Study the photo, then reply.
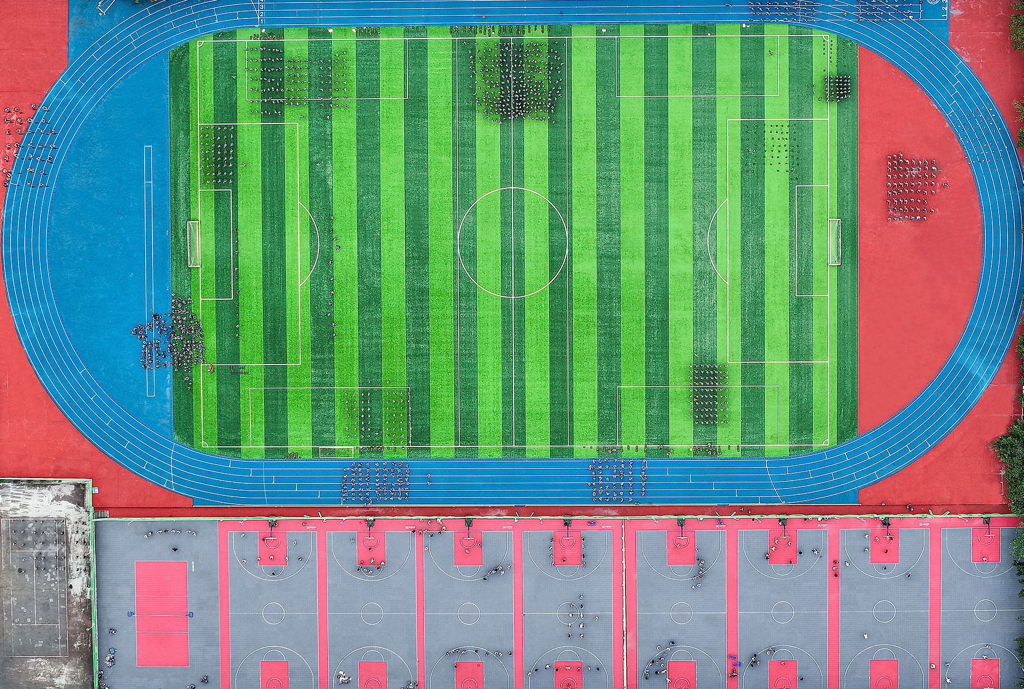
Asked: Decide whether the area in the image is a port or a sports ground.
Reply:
sports ground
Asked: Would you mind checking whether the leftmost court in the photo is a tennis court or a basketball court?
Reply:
tennis court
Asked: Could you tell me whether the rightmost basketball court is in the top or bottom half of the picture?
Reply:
bottom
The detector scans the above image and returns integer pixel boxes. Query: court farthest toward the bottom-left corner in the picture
[2,519,68,657]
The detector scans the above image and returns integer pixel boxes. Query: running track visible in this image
[3,0,1024,506]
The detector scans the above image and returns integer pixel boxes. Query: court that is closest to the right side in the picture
[940,528,1024,689]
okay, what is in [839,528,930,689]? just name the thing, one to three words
basketball court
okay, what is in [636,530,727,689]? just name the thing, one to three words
basketball court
